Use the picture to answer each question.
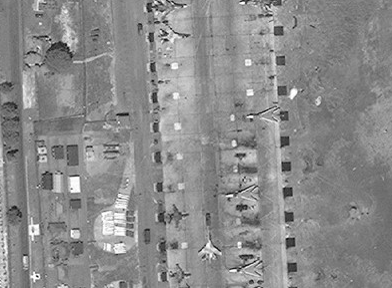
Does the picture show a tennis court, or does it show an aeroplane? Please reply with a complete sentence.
Looking from above, you can make out an aeroplane.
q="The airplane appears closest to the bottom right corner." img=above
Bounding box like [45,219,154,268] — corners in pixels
[229,261,263,277]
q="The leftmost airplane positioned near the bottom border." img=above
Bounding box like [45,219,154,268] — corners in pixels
[169,264,193,285]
